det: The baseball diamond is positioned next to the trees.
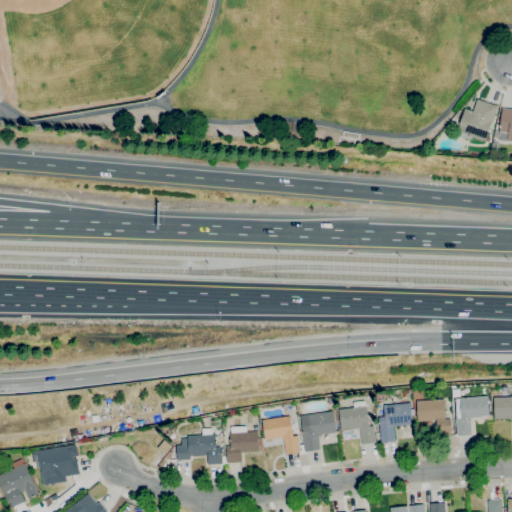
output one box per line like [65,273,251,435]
[0,0,208,112]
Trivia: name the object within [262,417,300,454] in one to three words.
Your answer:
house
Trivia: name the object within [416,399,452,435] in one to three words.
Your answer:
house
